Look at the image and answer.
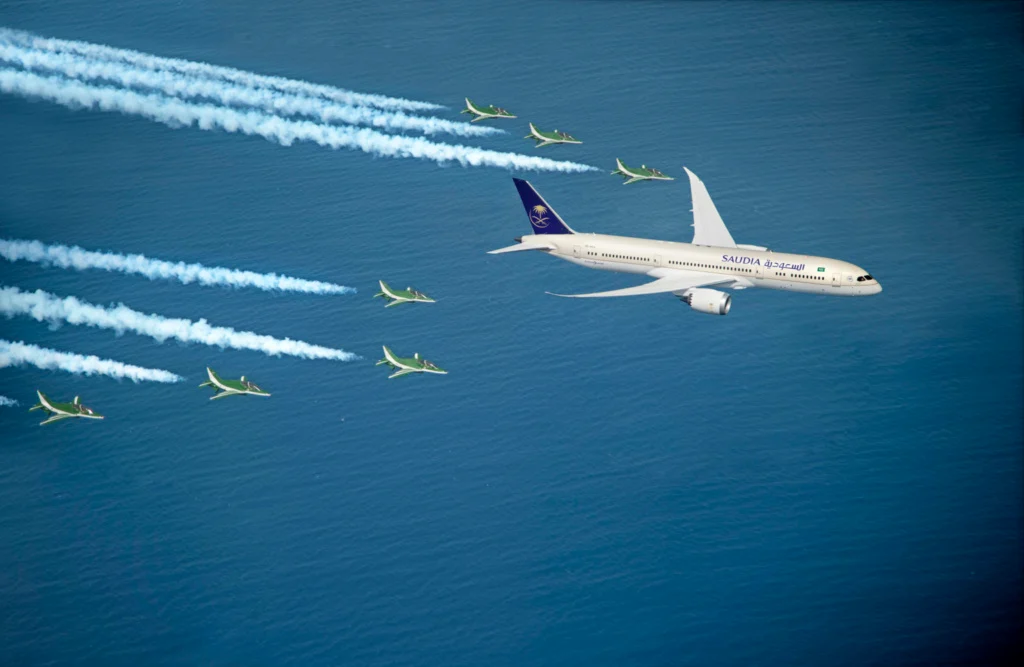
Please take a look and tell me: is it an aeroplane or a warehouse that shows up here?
aeroplane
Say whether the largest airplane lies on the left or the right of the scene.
right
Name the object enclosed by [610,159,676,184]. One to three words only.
airplane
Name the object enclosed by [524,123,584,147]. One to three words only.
airplane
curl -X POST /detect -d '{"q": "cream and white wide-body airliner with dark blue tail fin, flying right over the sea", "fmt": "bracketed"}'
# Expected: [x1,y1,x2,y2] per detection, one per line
[489,167,882,315]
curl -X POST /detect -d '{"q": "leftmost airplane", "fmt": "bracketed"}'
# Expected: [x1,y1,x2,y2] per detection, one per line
[29,390,106,425]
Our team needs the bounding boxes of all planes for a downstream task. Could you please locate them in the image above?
[460,98,521,122]
[375,346,447,379]
[373,281,437,307]
[524,123,584,147]
[489,167,882,315]
[610,159,676,184]
[198,367,274,400]
[29,390,106,425]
